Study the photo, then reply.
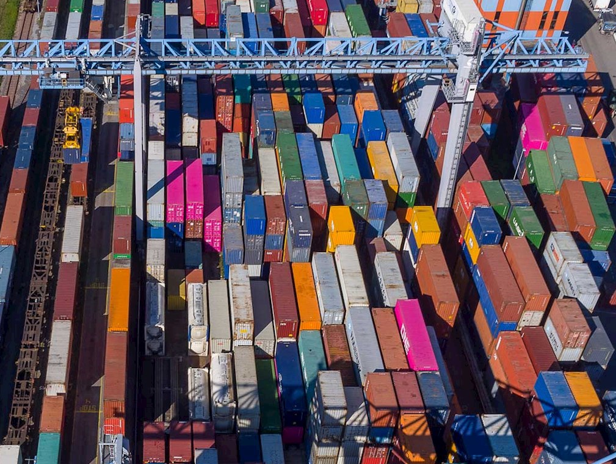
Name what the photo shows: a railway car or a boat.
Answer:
railway car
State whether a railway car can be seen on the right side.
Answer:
No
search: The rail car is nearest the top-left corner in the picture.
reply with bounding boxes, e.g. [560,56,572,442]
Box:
[23,0,41,31]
